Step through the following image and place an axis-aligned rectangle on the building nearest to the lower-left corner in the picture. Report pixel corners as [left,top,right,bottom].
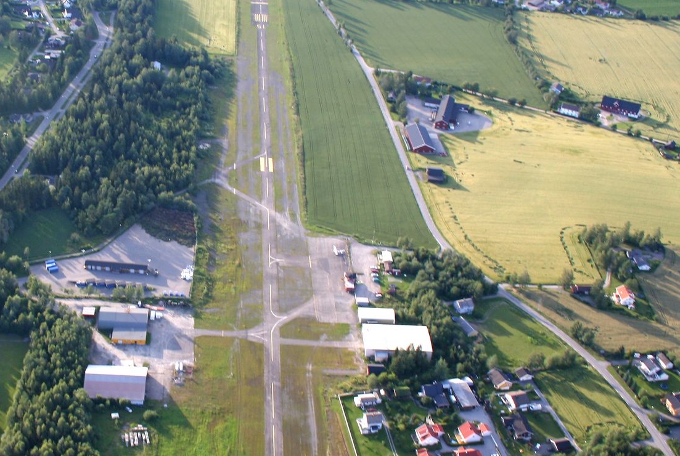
[82,366,148,405]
